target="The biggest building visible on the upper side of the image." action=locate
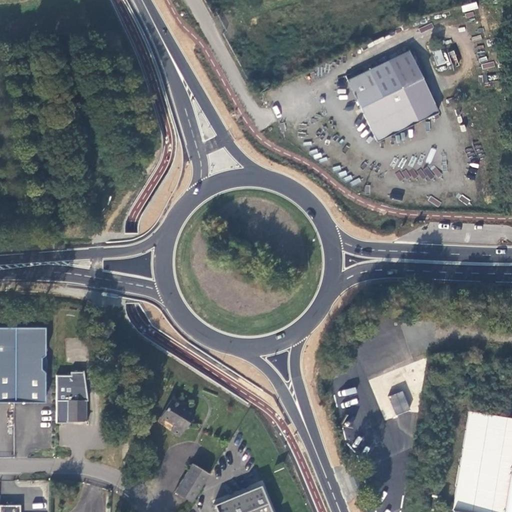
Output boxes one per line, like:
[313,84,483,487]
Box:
[348,51,439,141]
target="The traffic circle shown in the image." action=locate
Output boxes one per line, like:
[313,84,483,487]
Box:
[154,167,344,358]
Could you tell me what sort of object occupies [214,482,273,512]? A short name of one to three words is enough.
building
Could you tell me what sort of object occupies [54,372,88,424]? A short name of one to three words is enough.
building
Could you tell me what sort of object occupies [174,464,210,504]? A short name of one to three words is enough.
shed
